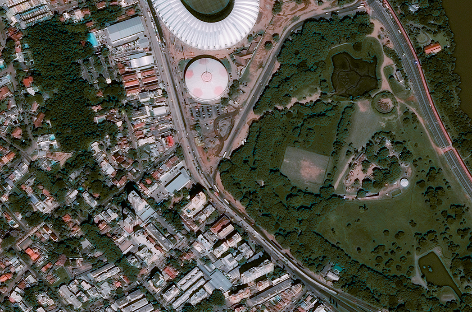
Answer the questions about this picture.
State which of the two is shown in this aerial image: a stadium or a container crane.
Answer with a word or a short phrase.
stadium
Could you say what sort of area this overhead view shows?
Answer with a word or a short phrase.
residential area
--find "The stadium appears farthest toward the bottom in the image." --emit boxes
[184,57,229,103]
